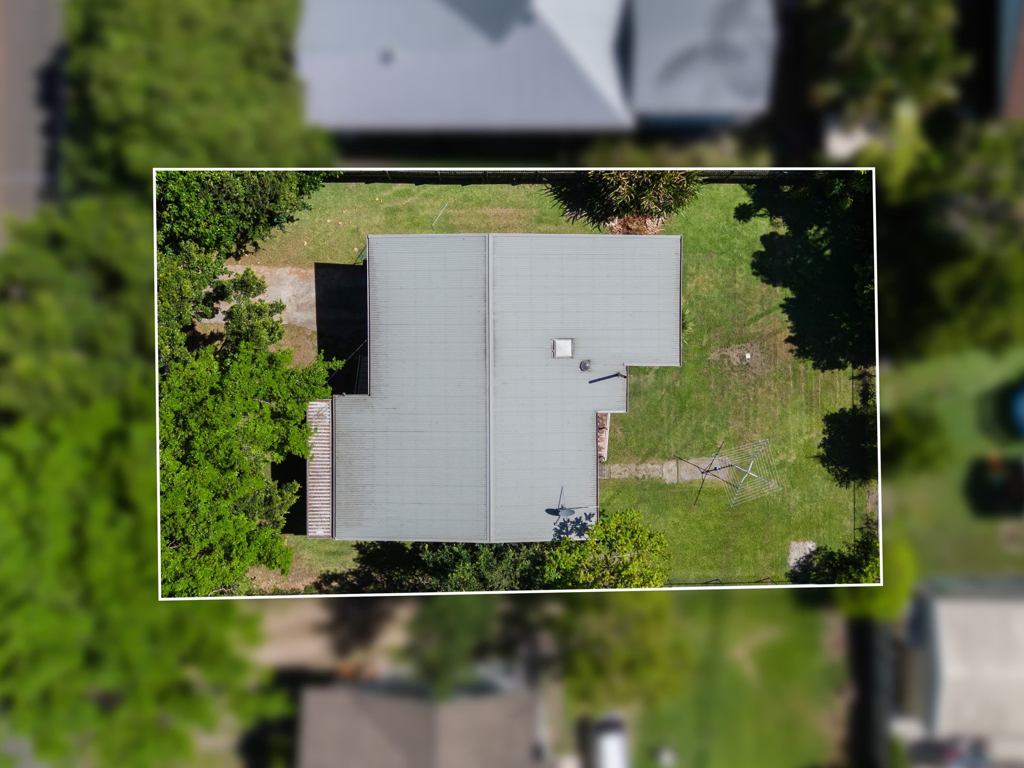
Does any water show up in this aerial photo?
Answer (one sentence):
No, there is no water in the image.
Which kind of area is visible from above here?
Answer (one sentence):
This looks like a residential area.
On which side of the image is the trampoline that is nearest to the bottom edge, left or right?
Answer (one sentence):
The trampoline that is nearest to the bottom edge appears in the right half of the scene.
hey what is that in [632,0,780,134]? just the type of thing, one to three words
house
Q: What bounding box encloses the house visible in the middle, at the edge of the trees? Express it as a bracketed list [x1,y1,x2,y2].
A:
[305,232,685,543]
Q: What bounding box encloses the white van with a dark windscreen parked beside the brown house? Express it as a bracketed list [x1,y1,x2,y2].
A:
[592,737,638,768]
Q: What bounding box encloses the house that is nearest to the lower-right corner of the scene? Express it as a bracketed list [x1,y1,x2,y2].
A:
[894,582,1024,746]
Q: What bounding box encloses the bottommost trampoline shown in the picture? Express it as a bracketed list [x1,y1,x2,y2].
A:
[962,457,1024,522]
